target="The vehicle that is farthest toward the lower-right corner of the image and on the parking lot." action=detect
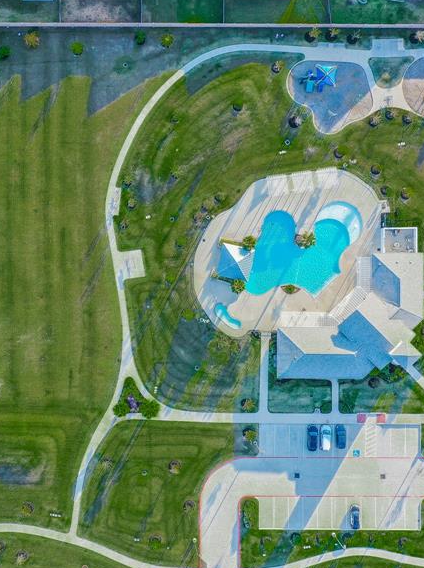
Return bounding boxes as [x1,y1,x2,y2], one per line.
[349,505,363,532]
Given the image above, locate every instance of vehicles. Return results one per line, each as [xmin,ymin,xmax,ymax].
[335,424,348,451]
[321,425,334,453]
[307,426,320,452]
[349,505,363,532]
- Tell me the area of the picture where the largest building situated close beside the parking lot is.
right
